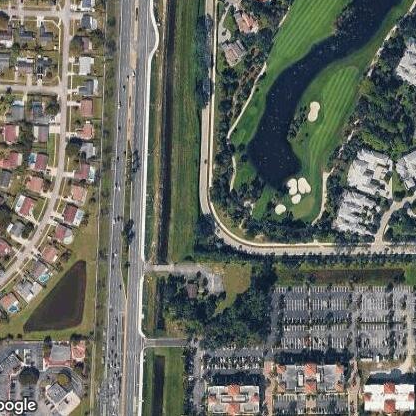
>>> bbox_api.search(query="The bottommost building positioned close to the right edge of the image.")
[363,384,414,412]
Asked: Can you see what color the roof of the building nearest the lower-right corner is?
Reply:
white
